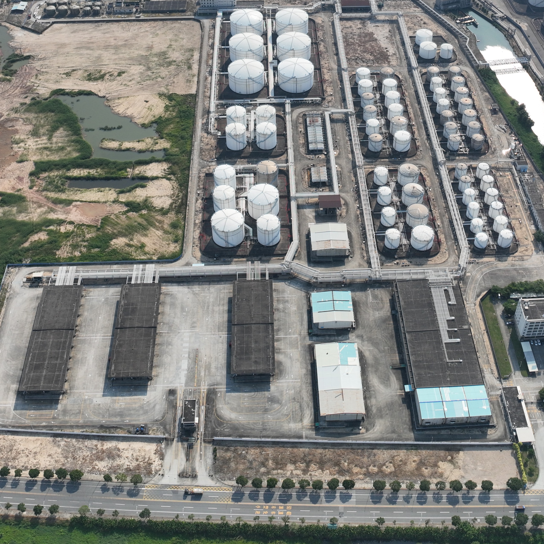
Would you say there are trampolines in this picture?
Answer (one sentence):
No, the picture doesn't show any trampoline.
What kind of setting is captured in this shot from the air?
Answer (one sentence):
The area seen from above is an industrial area.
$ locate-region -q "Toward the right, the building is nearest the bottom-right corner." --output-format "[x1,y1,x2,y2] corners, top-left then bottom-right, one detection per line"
[501,386,529,433]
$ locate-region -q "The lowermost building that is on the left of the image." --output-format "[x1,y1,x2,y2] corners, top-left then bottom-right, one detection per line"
[182,399,197,428]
